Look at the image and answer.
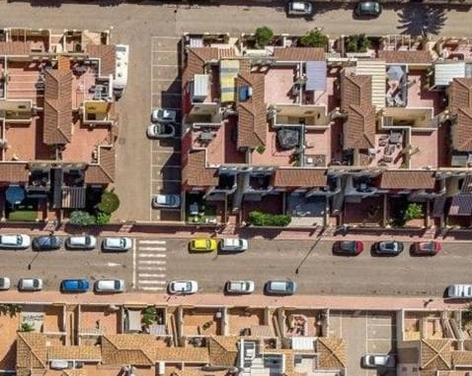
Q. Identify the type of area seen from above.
residential area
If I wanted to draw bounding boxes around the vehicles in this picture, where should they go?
[62,278,89,293]
[103,237,131,251]
[219,238,247,253]
[0,276,12,291]
[353,1,382,16]
[95,278,124,294]
[148,122,176,138]
[190,238,215,252]
[285,0,313,15]
[0,234,29,249]
[410,240,439,255]
[68,235,96,250]
[446,284,472,298]
[333,240,361,255]
[34,235,61,250]
[115,43,135,97]
[373,240,401,255]
[150,108,178,122]
[363,354,393,368]
[169,280,196,295]
[225,280,253,295]
[19,277,43,292]
[265,280,294,295]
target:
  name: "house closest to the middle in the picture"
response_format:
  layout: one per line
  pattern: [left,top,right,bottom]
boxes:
[180,102,303,194]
